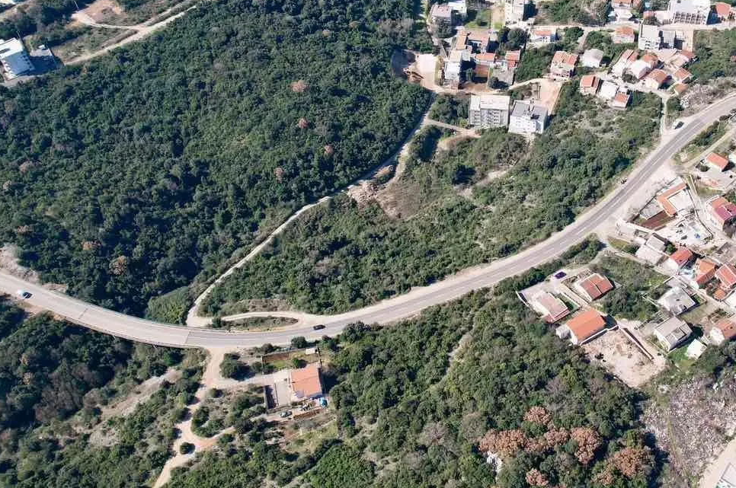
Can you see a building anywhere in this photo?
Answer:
Yes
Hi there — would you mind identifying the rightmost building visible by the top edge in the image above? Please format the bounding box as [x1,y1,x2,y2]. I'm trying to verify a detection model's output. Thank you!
[712,0,731,24]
